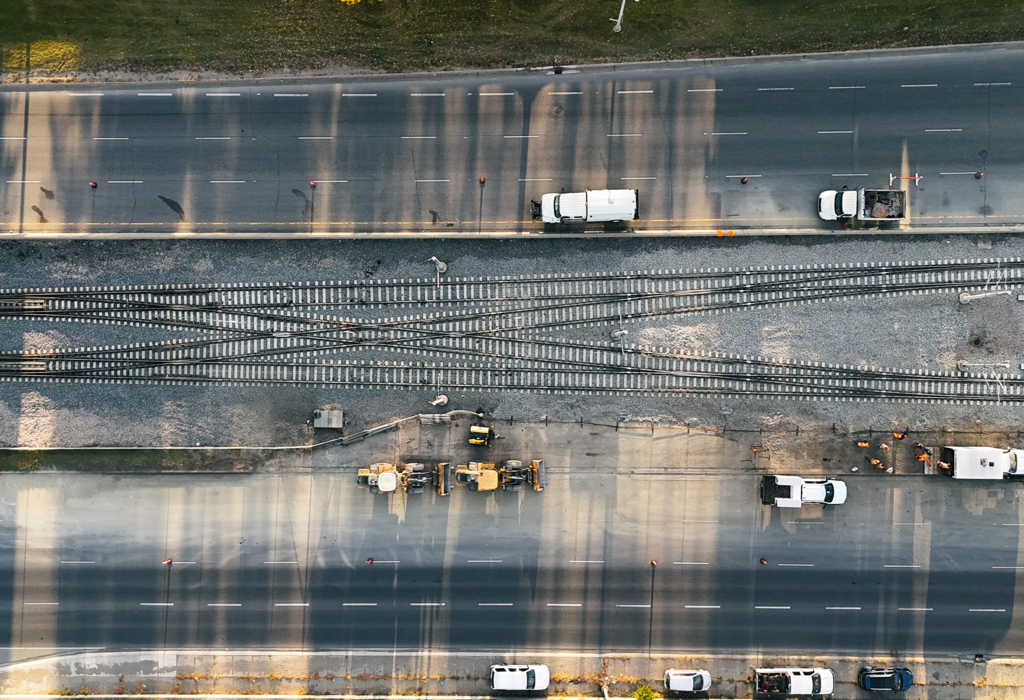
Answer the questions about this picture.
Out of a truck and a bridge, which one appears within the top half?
truck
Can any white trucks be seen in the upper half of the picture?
Yes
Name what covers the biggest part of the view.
paved ground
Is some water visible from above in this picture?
No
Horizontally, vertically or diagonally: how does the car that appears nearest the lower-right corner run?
horizontally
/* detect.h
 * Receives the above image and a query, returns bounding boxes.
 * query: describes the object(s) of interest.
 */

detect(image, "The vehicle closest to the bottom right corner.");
[856,664,912,693]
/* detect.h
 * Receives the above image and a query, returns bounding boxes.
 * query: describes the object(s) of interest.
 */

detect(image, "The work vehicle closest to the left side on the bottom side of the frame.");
[356,459,454,494]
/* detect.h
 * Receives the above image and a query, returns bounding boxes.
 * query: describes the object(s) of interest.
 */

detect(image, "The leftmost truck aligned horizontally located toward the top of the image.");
[529,189,641,221]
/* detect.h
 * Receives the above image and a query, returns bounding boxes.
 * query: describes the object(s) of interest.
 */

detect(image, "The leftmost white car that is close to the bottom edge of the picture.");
[490,660,550,691]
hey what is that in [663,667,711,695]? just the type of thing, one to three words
car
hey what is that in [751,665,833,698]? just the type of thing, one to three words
truck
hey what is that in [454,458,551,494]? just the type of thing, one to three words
work vehicle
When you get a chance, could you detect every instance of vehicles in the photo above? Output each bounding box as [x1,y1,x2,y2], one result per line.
[529,189,641,221]
[663,667,711,695]
[490,660,550,691]
[922,445,1024,479]
[356,459,454,494]
[759,476,847,506]
[856,664,912,693]
[751,665,833,698]
[454,458,551,494]
[815,189,906,220]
